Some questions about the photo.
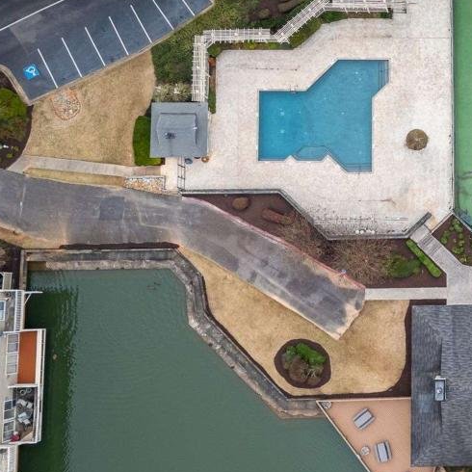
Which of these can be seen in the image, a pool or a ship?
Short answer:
pool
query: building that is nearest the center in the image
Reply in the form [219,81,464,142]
[149,103,213,159]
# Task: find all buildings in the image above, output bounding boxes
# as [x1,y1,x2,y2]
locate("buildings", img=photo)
[149,103,213,159]
[410,303,472,469]
[0,289,50,472]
